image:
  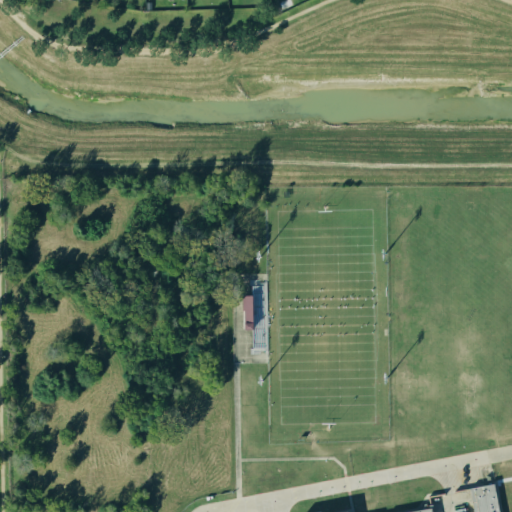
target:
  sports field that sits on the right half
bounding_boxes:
[276,208,380,426]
